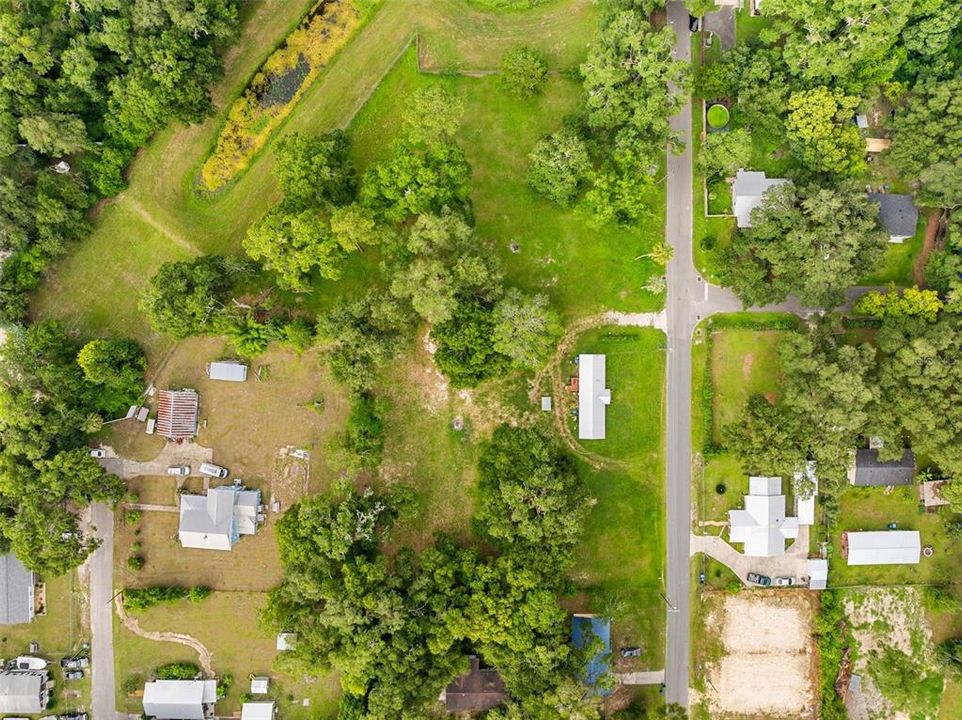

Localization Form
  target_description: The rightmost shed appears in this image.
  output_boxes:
[921,480,954,507]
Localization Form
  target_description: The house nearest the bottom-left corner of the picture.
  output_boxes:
[0,668,55,713]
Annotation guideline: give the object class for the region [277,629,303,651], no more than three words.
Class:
shed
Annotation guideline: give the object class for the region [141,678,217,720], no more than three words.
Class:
house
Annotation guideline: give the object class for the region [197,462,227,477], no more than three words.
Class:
vehicle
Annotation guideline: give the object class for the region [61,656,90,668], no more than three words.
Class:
vehicle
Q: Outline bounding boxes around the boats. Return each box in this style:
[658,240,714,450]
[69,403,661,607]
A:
[13,655,57,668]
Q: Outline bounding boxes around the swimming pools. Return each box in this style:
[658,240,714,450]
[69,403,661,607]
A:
[704,105,730,133]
